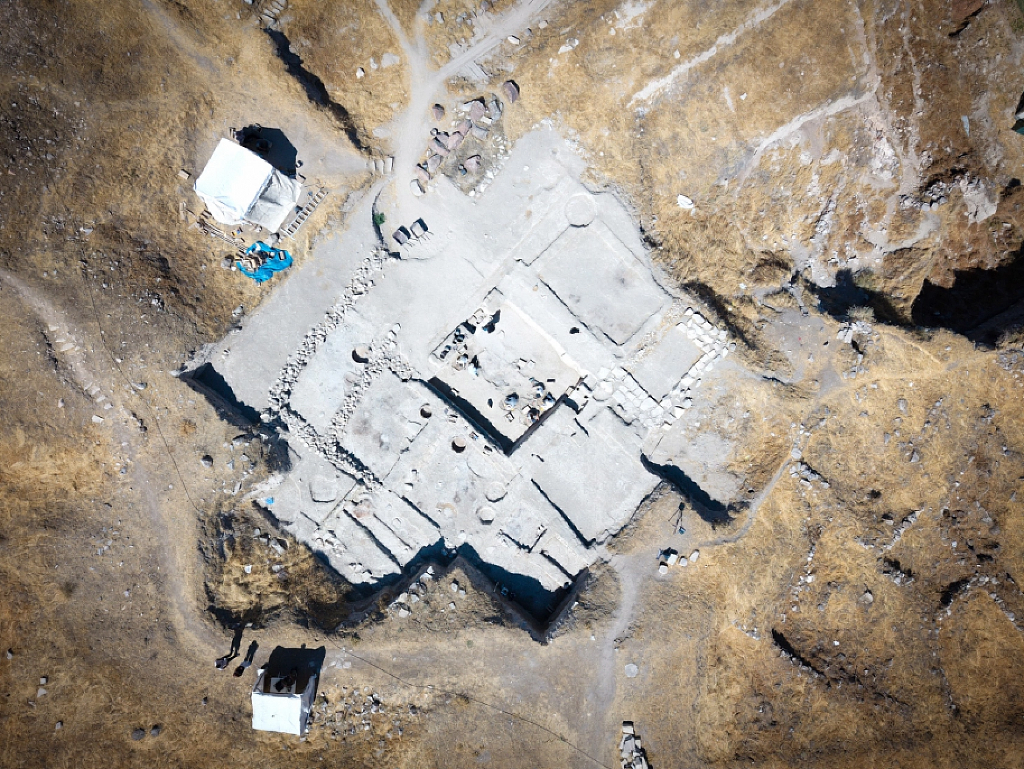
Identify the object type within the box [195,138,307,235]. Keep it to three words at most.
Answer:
tent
